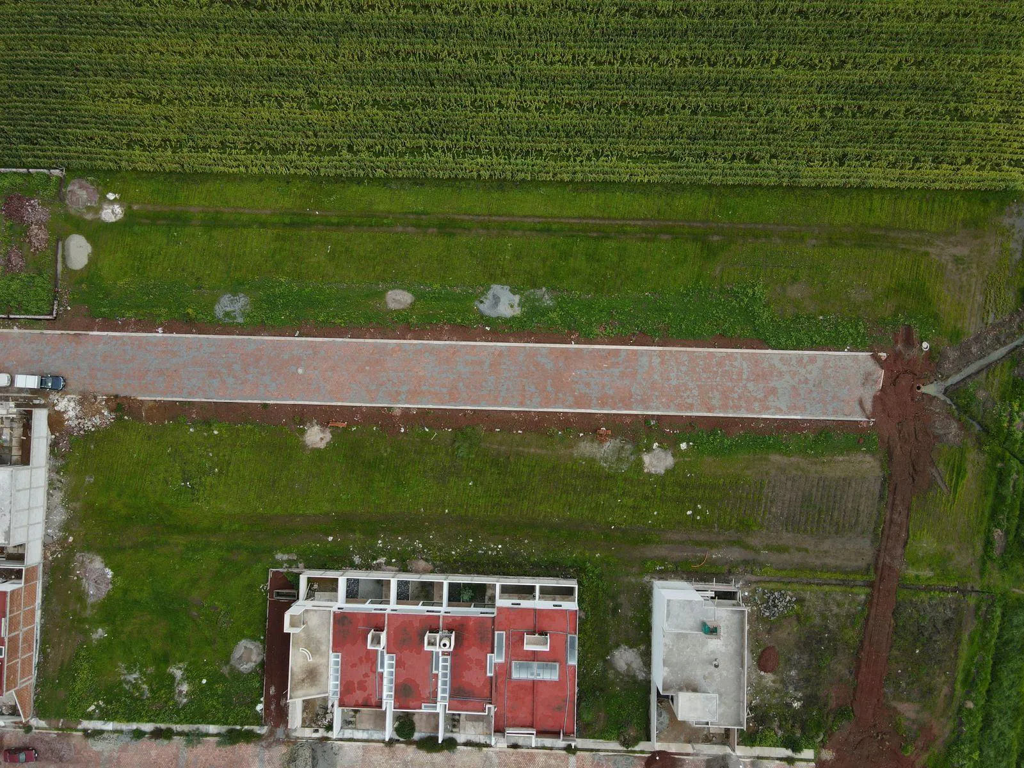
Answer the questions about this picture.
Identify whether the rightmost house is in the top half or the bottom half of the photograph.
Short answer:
bottom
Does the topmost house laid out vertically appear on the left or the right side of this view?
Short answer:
left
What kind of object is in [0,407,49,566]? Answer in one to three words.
house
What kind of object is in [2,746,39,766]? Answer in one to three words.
car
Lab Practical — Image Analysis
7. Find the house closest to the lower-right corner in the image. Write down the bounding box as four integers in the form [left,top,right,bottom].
[652,581,746,728]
